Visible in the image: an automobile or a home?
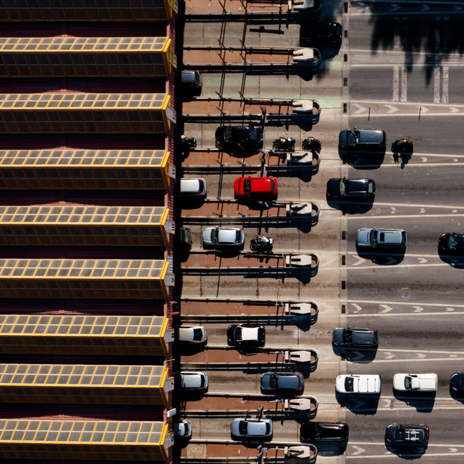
automobile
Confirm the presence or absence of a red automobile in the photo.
Yes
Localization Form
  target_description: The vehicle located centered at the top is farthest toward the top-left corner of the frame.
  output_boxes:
[174,70,202,92]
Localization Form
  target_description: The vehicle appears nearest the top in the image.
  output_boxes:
[300,21,342,46]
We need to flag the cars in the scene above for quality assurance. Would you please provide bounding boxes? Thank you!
[339,126,386,149]
[449,371,464,394]
[300,21,342,46]
[173,370,208,391]
[333,326,378,349]
[357,227,406,249]
[231,417,272,439]
[173,323,207,345]
[216,126,263,149]
[301,420,348,443]
[438,231,464,253]
[174,177,207,196]
[174,70,202,92]
[385,423,428,445]
[173,419,191,438]
[203,225,245,247]
[174,227,192,247]
[261,371,304,392]
[235,176,278,198]
[326,176,376,198]
[227,325,265,345]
